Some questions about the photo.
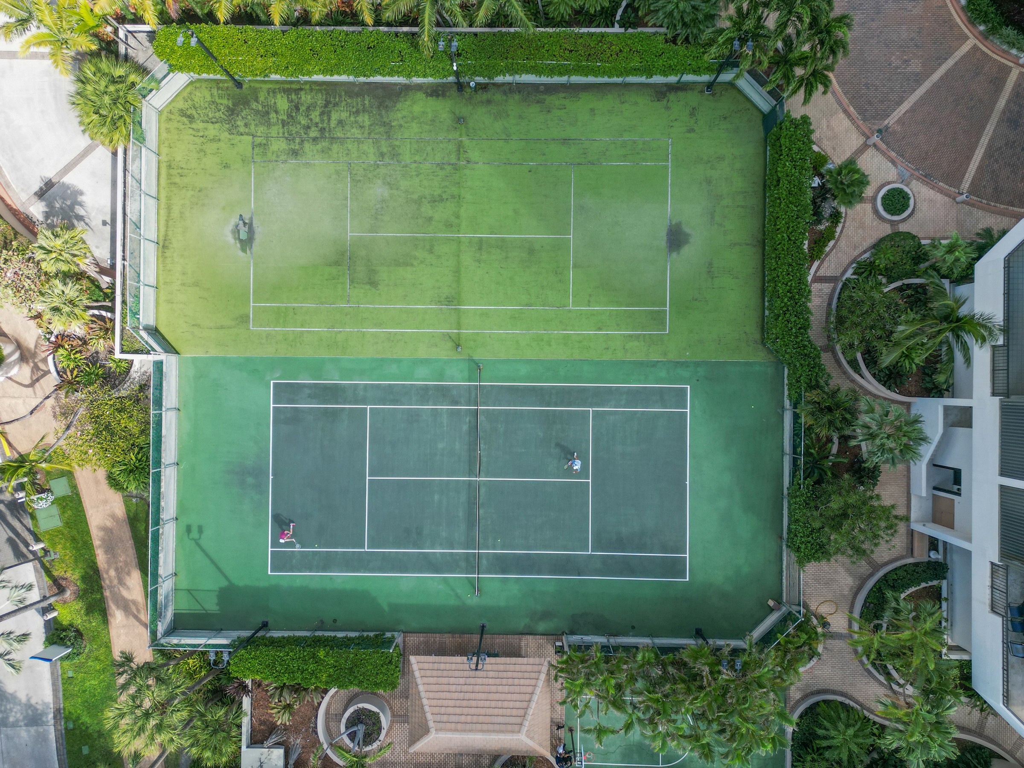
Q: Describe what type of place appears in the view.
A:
sports ground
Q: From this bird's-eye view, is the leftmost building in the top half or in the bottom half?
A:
bottom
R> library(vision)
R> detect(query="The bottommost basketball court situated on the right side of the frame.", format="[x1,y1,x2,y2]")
[564,637,785,768]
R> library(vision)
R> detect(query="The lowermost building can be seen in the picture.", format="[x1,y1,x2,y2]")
[406,651,553,759]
